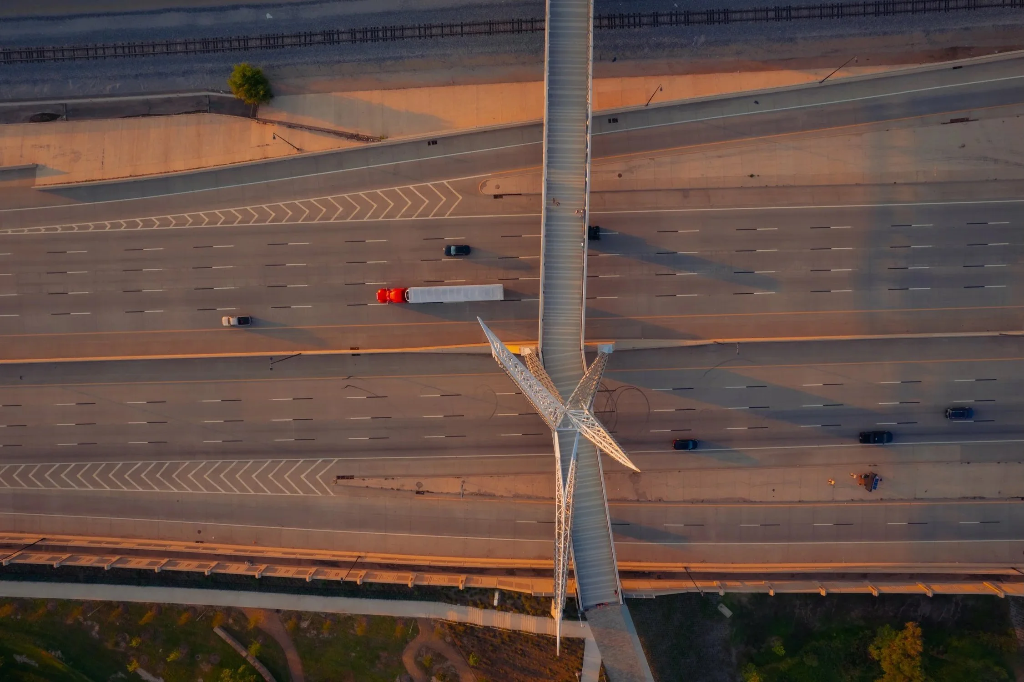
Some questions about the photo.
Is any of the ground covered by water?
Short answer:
No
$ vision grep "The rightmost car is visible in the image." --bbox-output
[942,407,972,420]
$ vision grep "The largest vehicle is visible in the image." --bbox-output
[376,284,504,305]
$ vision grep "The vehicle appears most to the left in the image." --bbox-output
[223,314,253,328]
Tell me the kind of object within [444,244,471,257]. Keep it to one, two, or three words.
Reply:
vehicle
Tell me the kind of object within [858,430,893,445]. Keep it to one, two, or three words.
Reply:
vehicle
